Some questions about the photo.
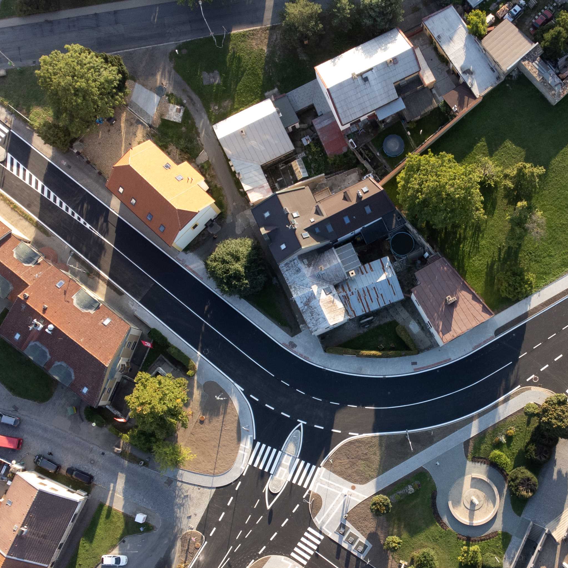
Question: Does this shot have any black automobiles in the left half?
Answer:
Yes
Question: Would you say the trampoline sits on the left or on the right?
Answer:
right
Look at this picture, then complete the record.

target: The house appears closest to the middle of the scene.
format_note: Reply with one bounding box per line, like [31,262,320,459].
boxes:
[279,247,349,335]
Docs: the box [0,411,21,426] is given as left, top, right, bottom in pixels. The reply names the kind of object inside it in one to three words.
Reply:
car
